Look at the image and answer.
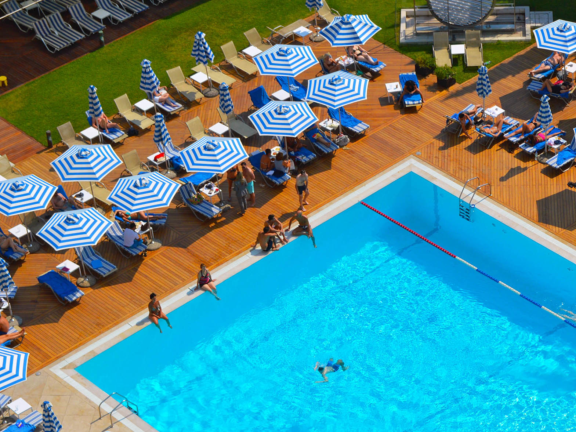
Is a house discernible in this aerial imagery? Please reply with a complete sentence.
No, there is no house in the image.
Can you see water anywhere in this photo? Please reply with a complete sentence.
Yes, there is water in the image.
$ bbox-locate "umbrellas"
[107,169,179,246]
[87,85,111,147]
[474,65,493,126]
[248,99,318,170]
[41,203,111,281]
[253,46,318,103]
[306,72,368,142]
[534,18,576,85]
[536,99,555,163]
[0,170,57,248]
[143,59,166,122]
[45,400,66,432]
[51,145,122,210]
[178,139,248,210]
[155,115,178,179]
[320,8,382,80]
[0,350,35,431]
[306,0,323,40]
[218,81,240,143]
[0,259,23,327]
